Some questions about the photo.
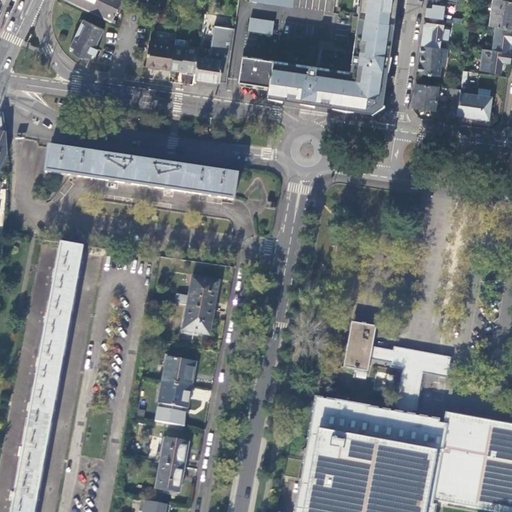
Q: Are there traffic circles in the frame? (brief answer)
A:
Yes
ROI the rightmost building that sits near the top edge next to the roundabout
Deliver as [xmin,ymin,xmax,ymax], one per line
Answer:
[266,0,397,116]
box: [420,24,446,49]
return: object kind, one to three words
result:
house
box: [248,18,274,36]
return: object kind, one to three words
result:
building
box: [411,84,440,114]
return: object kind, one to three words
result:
house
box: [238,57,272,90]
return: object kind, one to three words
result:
building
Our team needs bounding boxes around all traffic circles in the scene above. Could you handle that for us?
[276,119,334,181]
